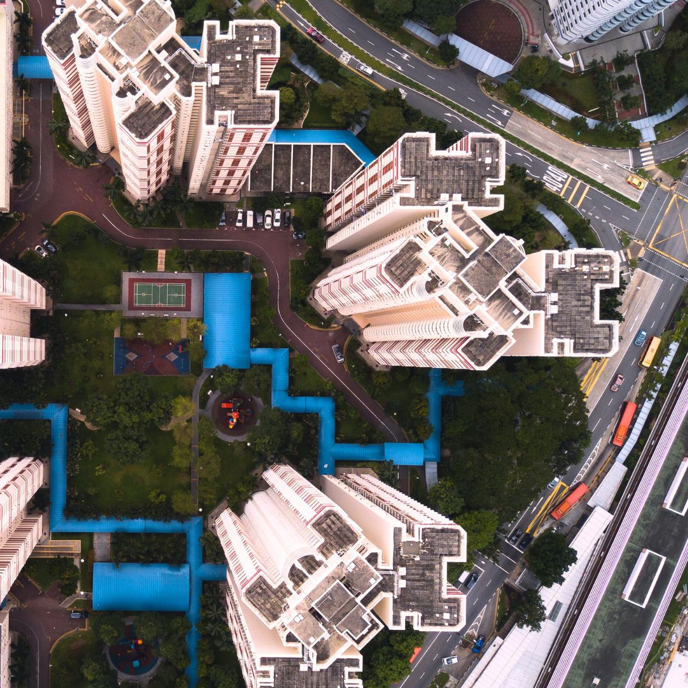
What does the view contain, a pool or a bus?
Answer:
bus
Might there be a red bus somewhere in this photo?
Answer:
Yes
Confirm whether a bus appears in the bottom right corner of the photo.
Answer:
Yes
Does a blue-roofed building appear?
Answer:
Yes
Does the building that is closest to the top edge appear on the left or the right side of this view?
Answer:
right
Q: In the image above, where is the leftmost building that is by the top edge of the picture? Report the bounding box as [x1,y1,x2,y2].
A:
[43,0,283,207]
